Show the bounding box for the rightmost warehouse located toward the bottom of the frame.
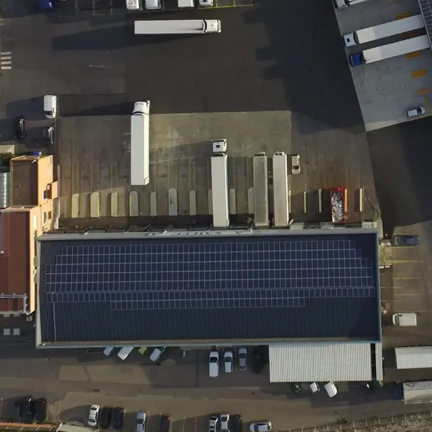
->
[36,212,381,348]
